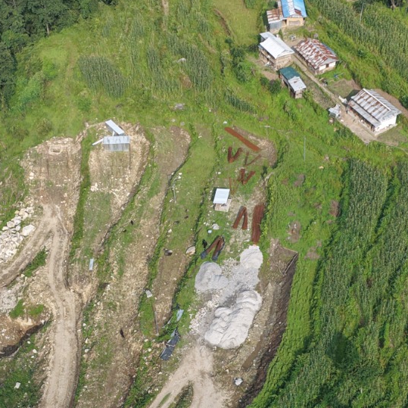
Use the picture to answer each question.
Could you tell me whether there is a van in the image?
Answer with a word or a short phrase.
No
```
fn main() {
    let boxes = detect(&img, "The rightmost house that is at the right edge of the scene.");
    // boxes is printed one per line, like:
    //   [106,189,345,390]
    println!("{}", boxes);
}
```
[351,88,401,129]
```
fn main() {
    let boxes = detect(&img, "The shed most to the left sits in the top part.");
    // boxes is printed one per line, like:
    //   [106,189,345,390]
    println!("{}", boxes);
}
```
[103,136,129,151]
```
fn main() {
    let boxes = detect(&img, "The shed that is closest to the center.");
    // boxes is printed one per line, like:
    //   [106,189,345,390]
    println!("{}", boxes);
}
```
[211,188,229,214]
